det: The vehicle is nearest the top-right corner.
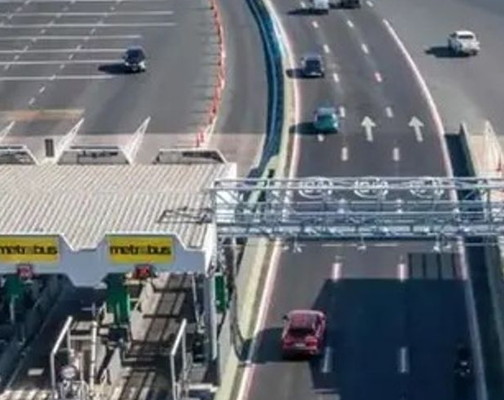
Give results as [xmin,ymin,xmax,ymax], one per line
[449,33,474,55]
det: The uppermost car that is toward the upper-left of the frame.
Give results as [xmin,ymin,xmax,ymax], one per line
[124,48,151,70]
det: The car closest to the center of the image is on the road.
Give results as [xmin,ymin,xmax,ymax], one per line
[313,106,341,130]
